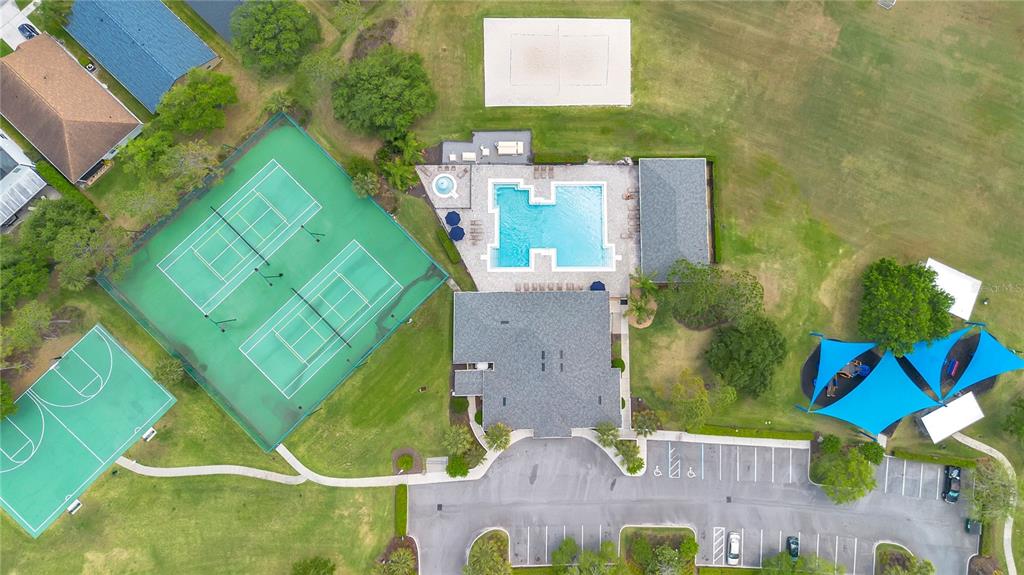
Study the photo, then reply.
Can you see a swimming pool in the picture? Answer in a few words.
Yes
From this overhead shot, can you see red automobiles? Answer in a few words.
No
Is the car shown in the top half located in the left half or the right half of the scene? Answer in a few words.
left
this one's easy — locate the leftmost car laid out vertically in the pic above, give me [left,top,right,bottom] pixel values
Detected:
[726,531,742,563]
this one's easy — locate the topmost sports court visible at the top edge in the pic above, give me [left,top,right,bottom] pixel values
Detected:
[484,18,632,106]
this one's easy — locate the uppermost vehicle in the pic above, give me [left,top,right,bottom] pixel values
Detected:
[15,17,43,40]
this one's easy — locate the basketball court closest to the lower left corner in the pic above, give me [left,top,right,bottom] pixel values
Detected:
[0,324,176,539]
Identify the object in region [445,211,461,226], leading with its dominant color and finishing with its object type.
blue umbrella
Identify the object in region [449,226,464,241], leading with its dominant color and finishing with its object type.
blue umbrella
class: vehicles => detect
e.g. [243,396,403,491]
[784,535,799,563]
[15,17,43,40]
[726,531,742,563]
[942,465,962,502]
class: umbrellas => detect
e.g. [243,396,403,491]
[449,226,464,241]
[590,279,605,292]
[445,211,461,226]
